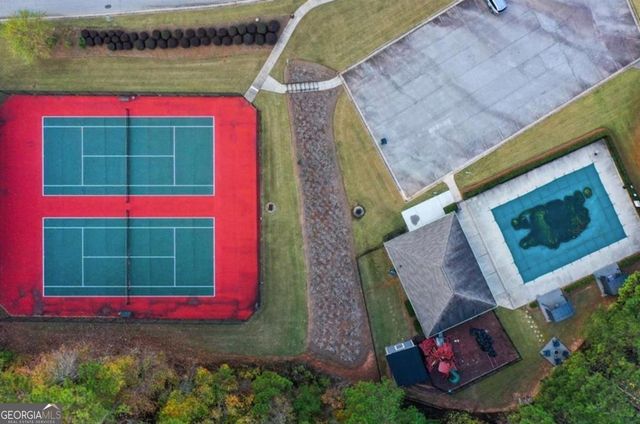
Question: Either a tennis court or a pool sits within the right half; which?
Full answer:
The one visible within the right half is a pool.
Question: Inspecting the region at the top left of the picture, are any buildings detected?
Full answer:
No, the scene shows no building at the top left of the picture.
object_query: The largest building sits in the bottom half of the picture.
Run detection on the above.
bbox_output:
[384,212,498,338]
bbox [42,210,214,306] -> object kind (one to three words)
tennis court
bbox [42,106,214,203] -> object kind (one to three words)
tennis court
